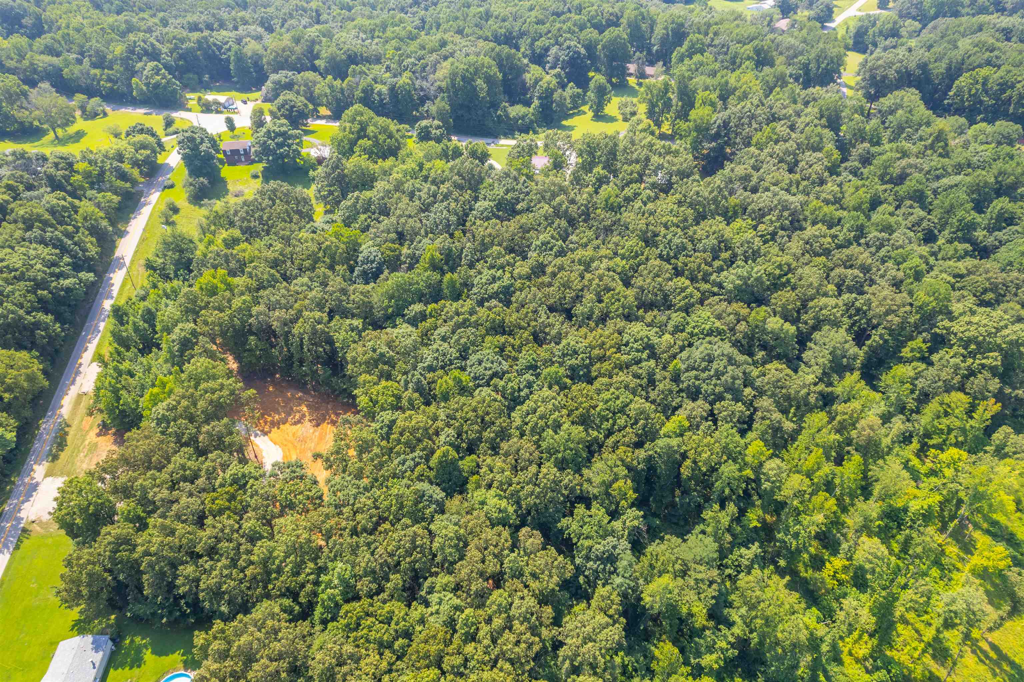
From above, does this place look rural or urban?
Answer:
rural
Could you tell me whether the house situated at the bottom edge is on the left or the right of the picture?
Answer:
left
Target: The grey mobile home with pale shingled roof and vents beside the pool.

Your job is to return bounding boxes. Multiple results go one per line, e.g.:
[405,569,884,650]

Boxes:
[42,634,113,682]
